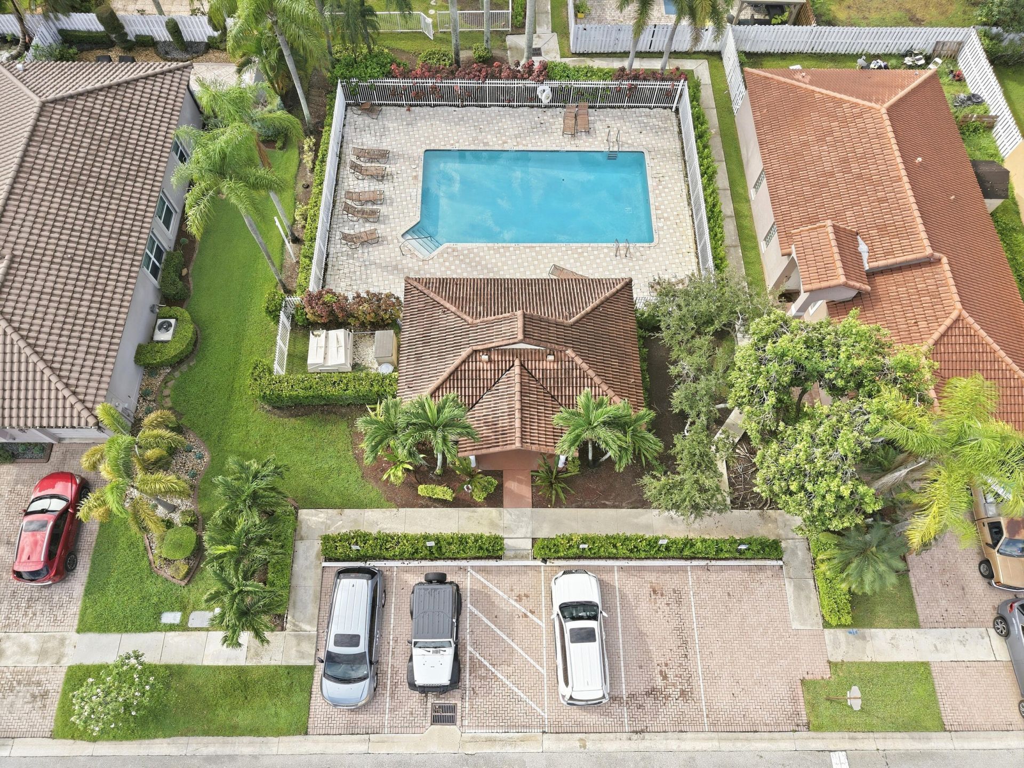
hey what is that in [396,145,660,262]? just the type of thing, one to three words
swimming pool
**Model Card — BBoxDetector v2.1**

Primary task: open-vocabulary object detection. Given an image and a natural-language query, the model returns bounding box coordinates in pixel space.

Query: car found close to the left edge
[5,472,93,589]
